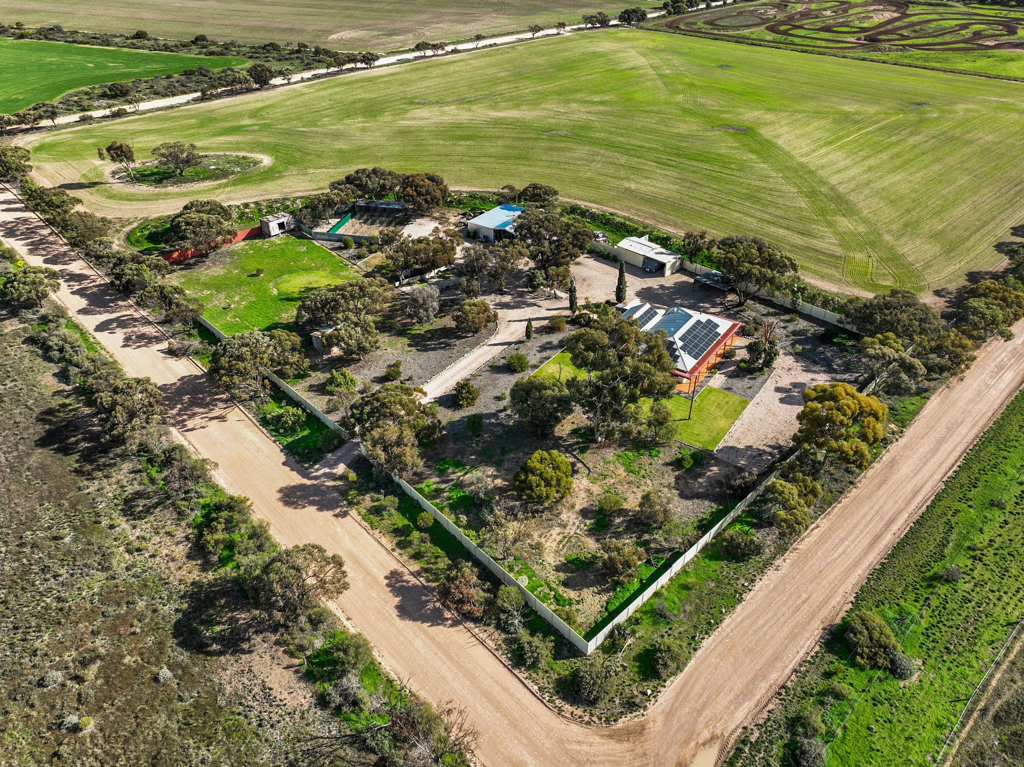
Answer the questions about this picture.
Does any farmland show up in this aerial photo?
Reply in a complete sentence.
Yes, the picture does contain farmland.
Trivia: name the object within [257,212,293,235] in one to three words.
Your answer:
shed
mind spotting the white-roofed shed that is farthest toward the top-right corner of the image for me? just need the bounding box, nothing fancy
[616,238,680,278]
